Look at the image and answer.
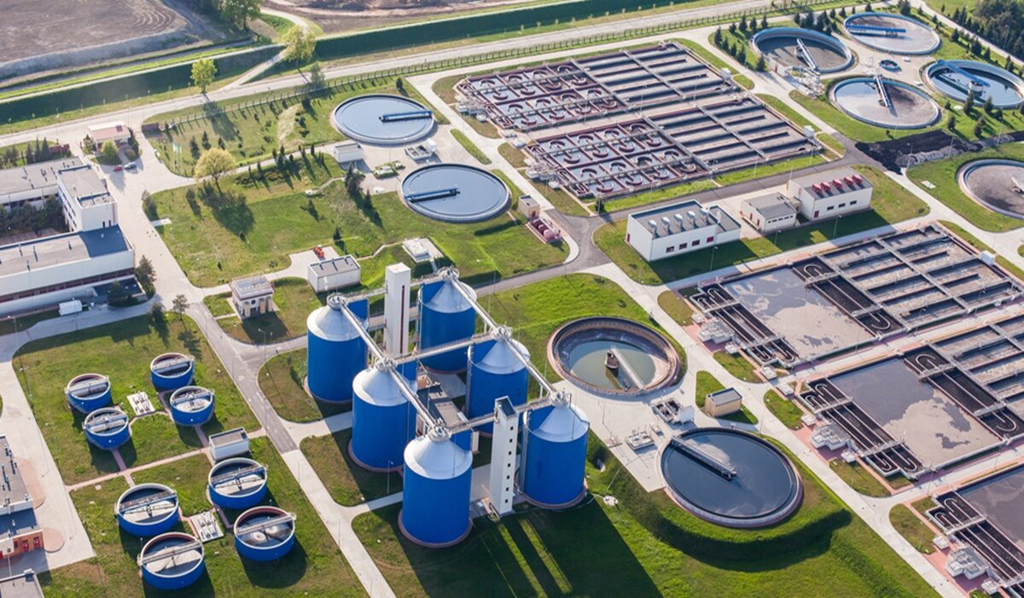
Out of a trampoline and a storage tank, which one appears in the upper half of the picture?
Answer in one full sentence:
Visible in the upper half of the picture is a storage tank.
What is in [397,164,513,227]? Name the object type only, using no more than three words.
storage tank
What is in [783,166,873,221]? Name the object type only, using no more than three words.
building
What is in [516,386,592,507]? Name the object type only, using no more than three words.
silo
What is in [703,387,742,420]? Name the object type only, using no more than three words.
shed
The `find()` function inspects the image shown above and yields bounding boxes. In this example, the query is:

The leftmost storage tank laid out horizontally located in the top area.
[331,94,437,147]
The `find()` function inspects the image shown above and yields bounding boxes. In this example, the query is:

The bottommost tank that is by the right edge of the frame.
[955,157,1024,226]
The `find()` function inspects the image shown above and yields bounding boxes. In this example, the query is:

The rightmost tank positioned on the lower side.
[655,431,805,533]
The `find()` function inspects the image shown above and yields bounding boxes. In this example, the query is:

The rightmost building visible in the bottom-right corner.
[931,549,987,586]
